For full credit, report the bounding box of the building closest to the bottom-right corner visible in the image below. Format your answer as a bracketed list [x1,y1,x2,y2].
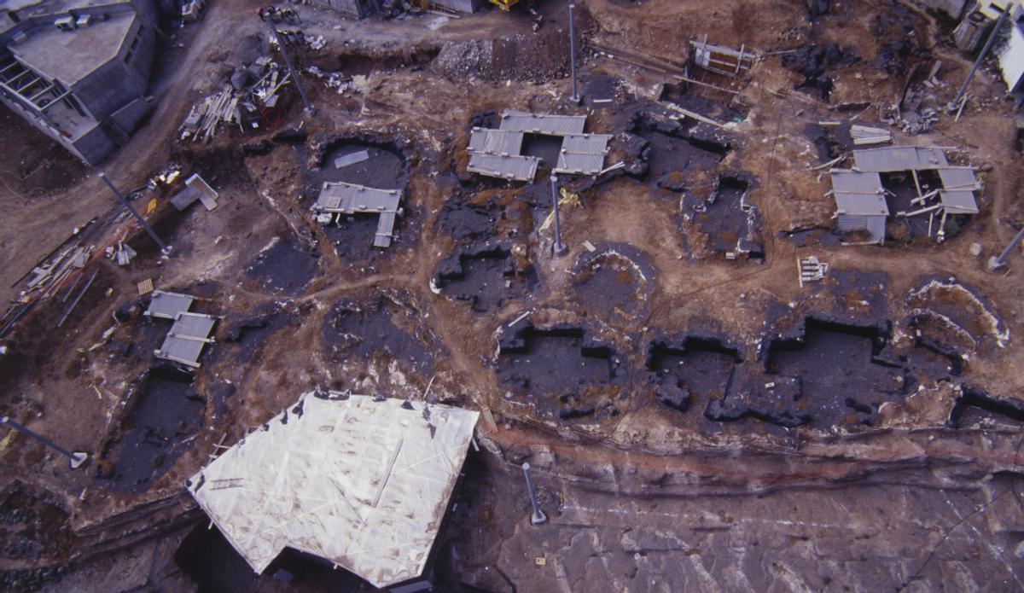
[940,377,1024,427]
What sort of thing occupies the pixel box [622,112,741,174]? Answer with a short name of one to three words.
house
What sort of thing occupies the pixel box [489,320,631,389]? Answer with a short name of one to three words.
house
